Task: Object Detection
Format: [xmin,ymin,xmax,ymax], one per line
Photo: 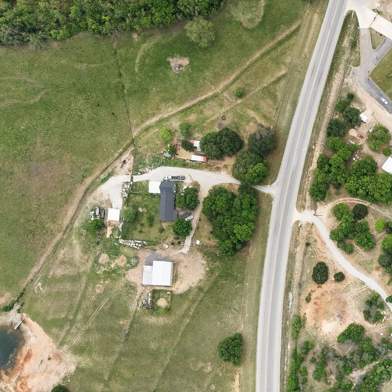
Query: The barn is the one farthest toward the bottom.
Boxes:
[143,261,174,286]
